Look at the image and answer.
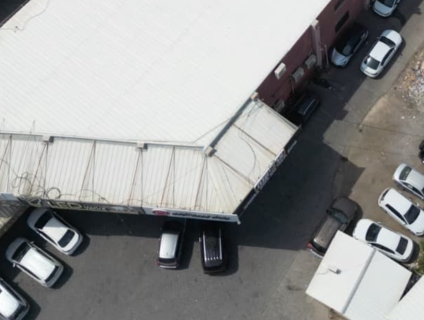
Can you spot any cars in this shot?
Yes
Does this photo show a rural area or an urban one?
urban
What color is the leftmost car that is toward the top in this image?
black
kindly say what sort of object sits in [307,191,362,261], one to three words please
car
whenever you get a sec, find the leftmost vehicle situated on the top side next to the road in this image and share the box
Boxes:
[282,79,332,133]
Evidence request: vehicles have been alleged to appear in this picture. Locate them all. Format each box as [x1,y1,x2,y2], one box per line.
[0,273,35,320]
[359,26,406,81]
[4,234,66,292]
[282,79,332,133]
[388,157,424,206]
[373,0,403,18]
[372,181,424,243]
[152,222,189,280]
[25,213,88,260]
[331,17,373,71]
[307,191,362,261]
[196,227,229,290]
[348,214,421,268]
